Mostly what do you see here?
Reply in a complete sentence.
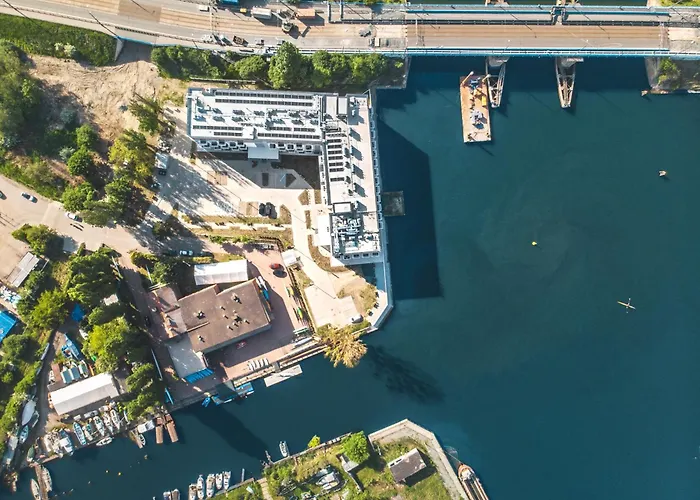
The scene is dominated by water.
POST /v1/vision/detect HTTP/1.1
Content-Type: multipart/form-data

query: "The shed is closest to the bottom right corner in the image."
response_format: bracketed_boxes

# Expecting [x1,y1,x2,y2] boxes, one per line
[388,447,427,483]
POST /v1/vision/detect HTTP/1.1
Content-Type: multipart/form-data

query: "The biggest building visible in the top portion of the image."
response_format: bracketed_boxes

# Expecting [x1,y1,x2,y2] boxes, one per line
[188,88,386,263]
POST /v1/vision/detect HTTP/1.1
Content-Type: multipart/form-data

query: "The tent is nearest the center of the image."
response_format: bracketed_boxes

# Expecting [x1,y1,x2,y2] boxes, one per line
[193,259,250,286]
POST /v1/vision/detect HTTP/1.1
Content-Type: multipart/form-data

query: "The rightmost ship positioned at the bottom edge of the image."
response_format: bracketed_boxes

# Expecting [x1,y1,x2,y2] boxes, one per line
[453,449,492,500]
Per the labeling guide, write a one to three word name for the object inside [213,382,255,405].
pier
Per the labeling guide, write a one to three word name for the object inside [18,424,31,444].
boat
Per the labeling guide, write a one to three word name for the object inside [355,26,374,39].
vehicle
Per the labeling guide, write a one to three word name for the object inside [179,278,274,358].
building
